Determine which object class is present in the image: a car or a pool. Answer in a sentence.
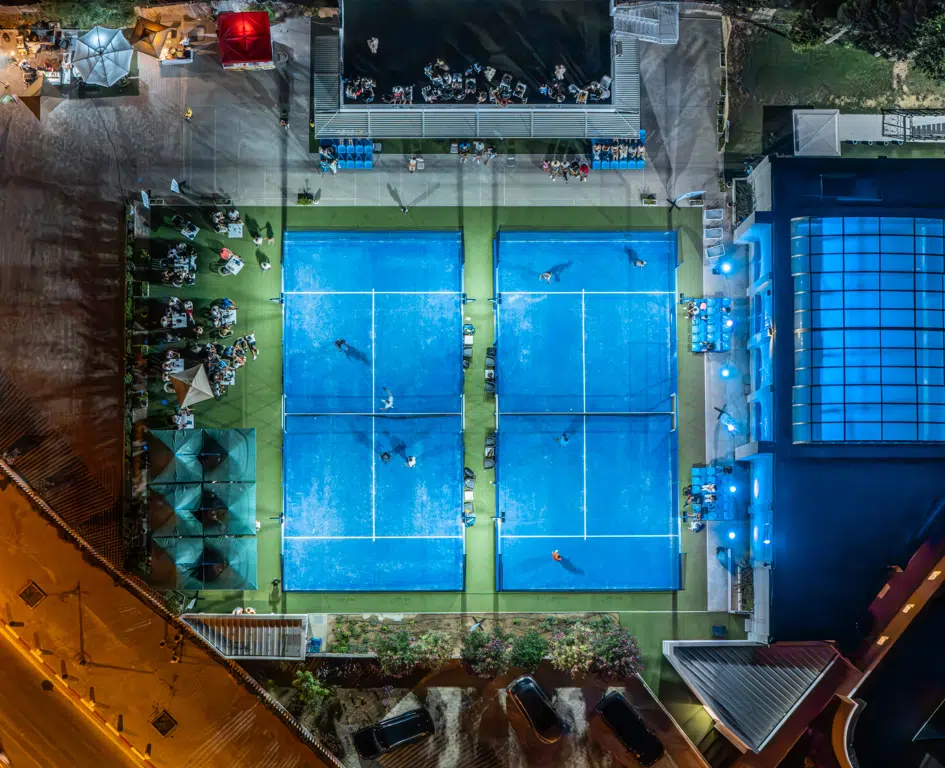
This aerial view contains a car.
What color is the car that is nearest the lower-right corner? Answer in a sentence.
The car that is nearest the lower-right corner is black.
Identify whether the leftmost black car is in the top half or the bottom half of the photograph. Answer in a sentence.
You can find the leftmost black car in the bottom half.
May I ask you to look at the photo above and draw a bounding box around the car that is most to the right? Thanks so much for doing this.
[592,689,667,768]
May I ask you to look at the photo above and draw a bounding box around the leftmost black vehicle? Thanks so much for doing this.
[351,707,436,757]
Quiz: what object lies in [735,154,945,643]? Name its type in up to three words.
building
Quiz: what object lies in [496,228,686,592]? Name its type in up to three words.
sports court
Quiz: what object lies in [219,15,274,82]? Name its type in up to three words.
tent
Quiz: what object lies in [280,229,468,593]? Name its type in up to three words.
sports court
